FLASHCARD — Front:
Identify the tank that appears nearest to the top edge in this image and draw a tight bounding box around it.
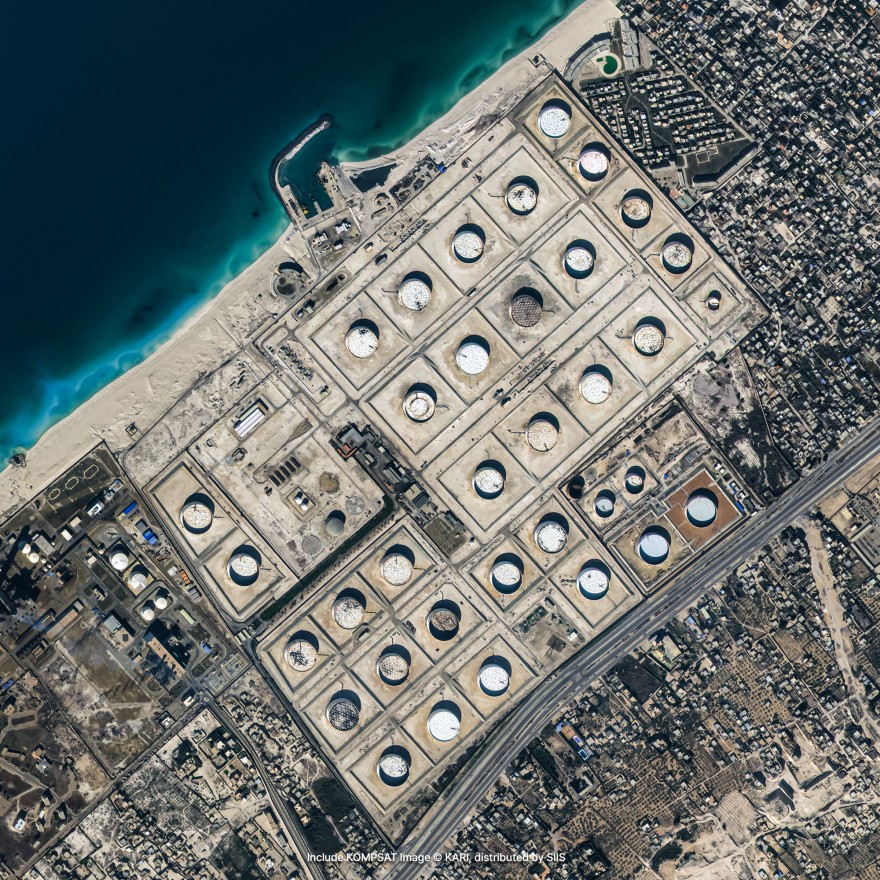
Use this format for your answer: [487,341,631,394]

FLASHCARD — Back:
[536,104,571,150]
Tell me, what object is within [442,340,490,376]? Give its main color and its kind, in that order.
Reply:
white storage tank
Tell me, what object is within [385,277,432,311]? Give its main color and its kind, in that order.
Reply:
white storage tank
